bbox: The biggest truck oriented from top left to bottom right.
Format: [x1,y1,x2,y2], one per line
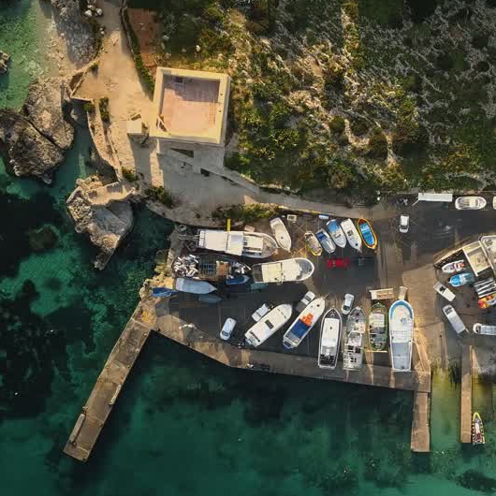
[443,305,466,333]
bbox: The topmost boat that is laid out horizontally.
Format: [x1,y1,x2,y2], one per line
[455,195,485,208]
